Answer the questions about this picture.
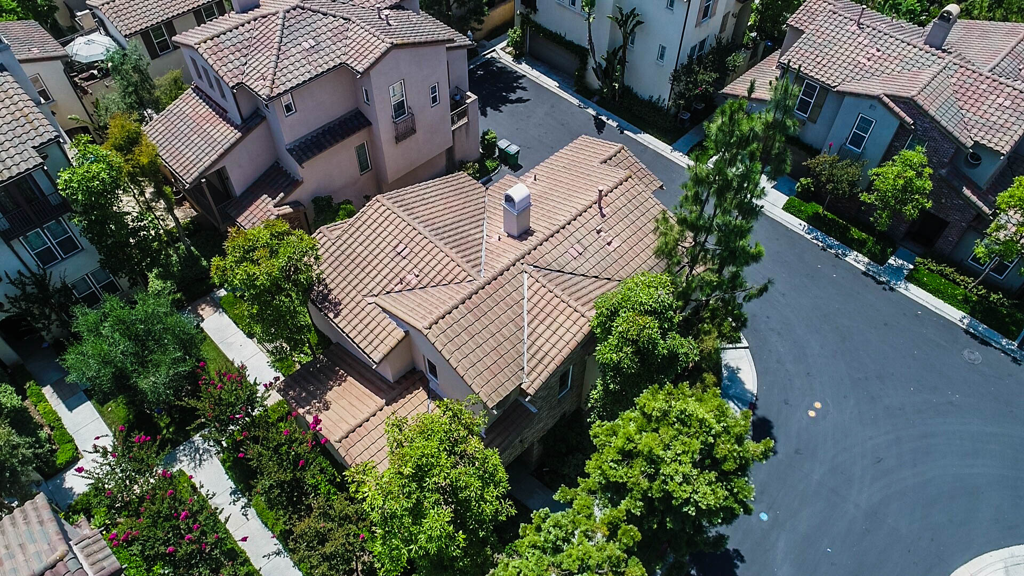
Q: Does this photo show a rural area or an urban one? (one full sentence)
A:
The area is urban.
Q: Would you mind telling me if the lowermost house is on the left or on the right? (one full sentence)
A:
The lowermost house is on the left side of the image.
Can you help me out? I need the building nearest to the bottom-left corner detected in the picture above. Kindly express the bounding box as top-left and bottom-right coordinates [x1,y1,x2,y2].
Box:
[0,496,149,576]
